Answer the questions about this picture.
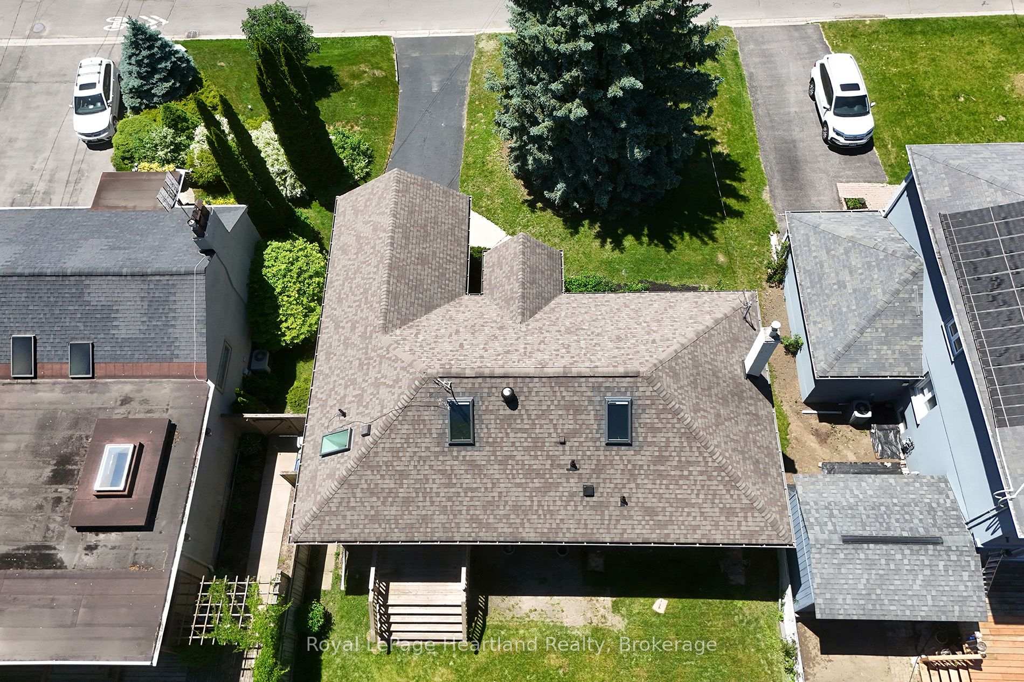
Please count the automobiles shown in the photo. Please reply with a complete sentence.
The picture shows 2 automobiles.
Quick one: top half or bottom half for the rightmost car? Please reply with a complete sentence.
It is in the top half that the rightmost car appears.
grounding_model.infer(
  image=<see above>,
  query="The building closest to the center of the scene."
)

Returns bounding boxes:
[287,169,797,590]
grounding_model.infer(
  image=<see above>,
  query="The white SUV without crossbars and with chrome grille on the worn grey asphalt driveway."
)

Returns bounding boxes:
[807,56,877,146]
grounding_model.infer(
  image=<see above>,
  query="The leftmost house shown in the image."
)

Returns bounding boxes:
[0,170,256,675]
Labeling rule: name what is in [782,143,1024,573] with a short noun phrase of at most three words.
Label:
house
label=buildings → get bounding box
[0,170,256,675]
[782,143,1024,573]
[287,169,797,590]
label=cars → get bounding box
[807,56,877,146]
[63,53,123,141]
